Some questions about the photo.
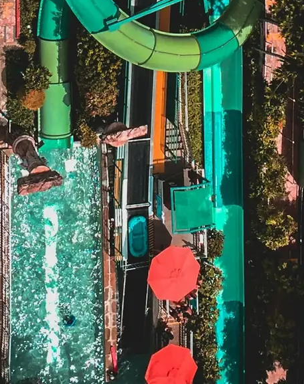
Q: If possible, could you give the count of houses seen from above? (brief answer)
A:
0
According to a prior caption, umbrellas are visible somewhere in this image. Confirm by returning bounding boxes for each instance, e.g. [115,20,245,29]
[142,319,197,384]
[145,231,199,299]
